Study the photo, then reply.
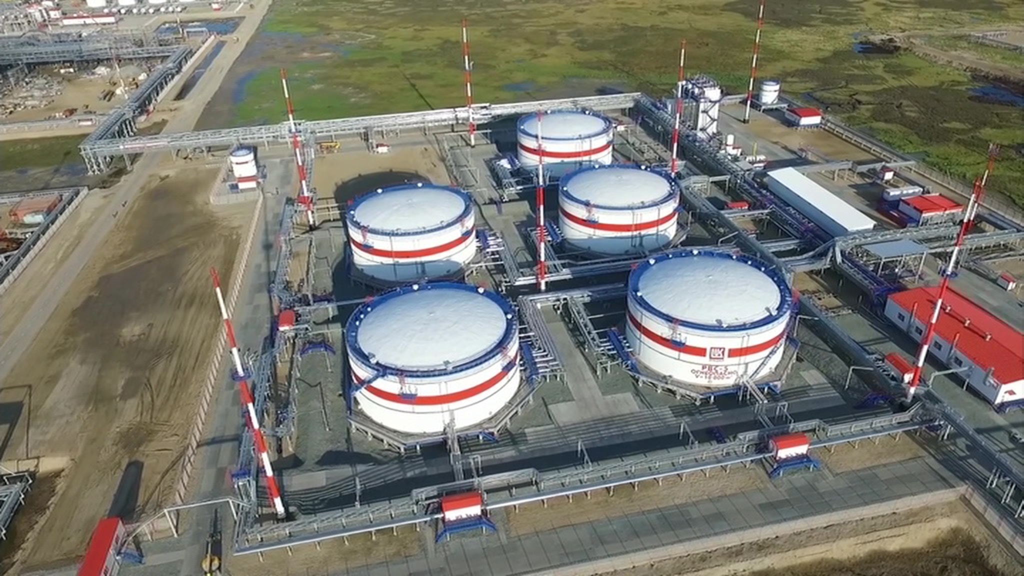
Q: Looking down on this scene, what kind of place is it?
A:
industrial area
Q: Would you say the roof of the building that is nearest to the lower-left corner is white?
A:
No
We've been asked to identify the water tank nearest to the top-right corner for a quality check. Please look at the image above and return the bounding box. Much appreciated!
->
[751,78,790,108]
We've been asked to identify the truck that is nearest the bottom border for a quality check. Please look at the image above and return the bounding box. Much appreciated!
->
[196,534,222,576]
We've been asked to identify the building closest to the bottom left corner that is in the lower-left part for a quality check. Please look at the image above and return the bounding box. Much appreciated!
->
[61,506,144,576]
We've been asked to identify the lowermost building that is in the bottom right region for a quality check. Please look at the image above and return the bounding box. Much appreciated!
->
[758,425,829,474]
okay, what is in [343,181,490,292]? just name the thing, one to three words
storage tank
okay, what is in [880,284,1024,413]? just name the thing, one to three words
building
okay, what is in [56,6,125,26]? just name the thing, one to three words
building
